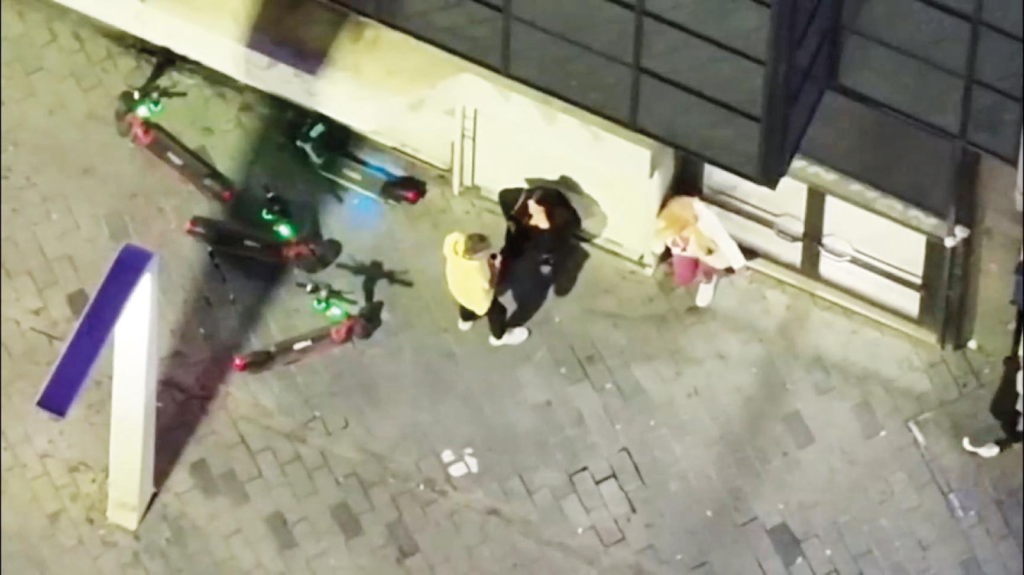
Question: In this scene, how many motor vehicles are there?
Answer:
4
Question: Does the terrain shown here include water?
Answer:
No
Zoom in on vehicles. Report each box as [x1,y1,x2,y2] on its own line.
[185,179,346,266]
[231,270,379,372]
[278,101,418,201]
[113,80,238,204]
